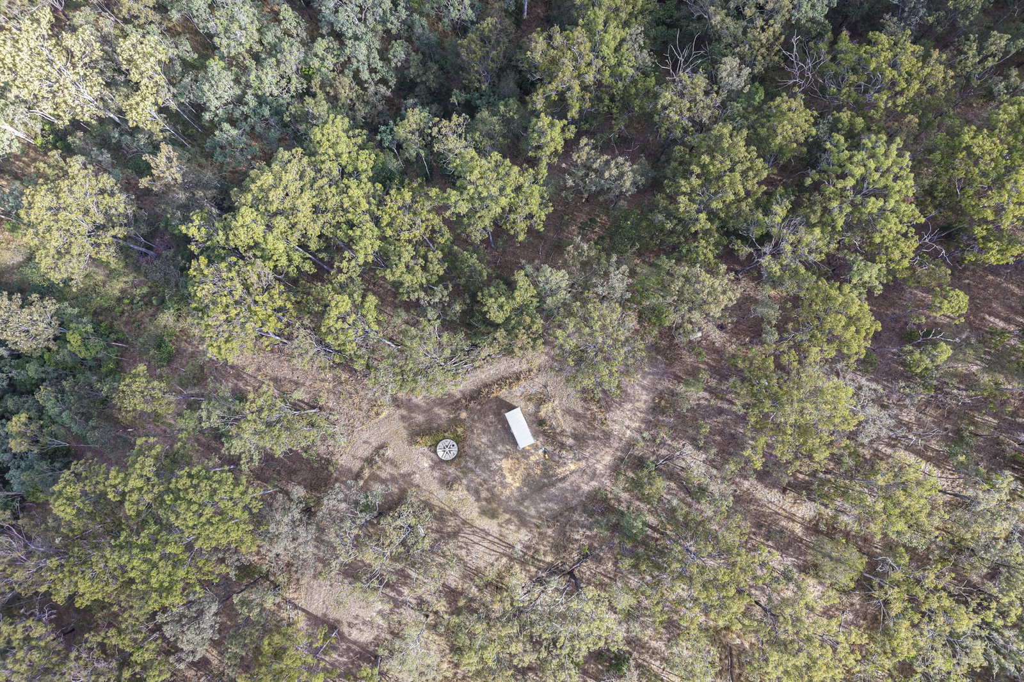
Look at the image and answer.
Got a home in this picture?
No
